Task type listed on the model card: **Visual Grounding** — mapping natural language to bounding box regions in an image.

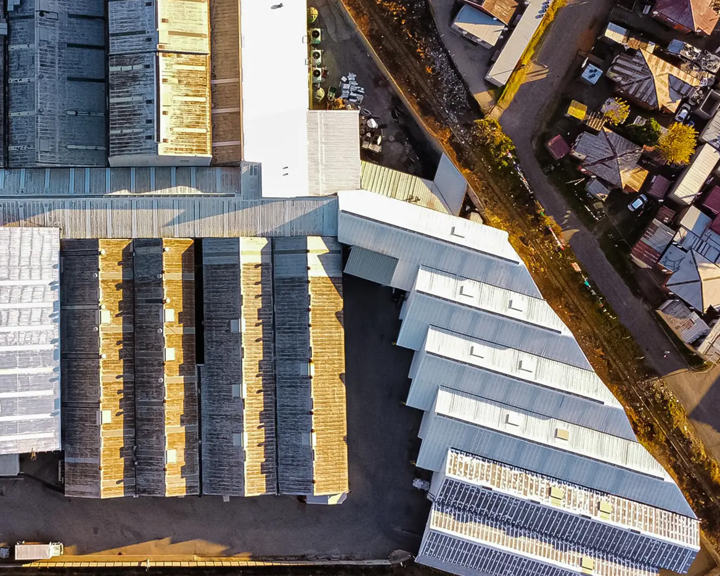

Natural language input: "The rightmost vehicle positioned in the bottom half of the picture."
[14,544,64,566]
